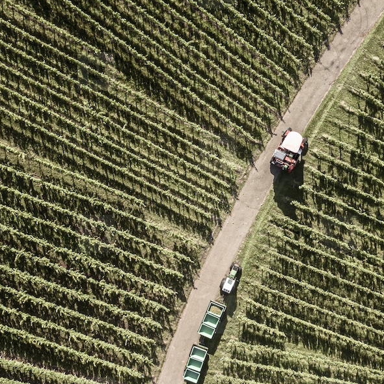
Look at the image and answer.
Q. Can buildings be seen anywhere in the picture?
No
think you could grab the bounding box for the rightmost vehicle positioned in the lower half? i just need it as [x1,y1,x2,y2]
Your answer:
[219,260,242,295]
